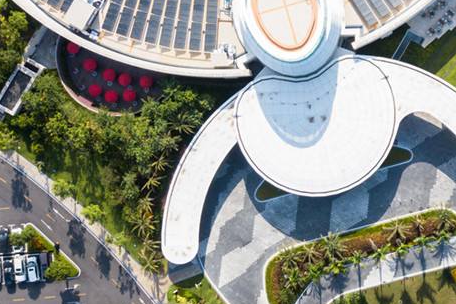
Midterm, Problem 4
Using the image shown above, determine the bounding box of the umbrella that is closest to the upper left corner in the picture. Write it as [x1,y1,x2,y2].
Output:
[67,41,81,55]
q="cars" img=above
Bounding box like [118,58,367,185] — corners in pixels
[2,259,15,284]
[37,250,50,276]
[13,256,28,282]
[0,229,13,254]
[12,227,26,253]
[27,256,40,281]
